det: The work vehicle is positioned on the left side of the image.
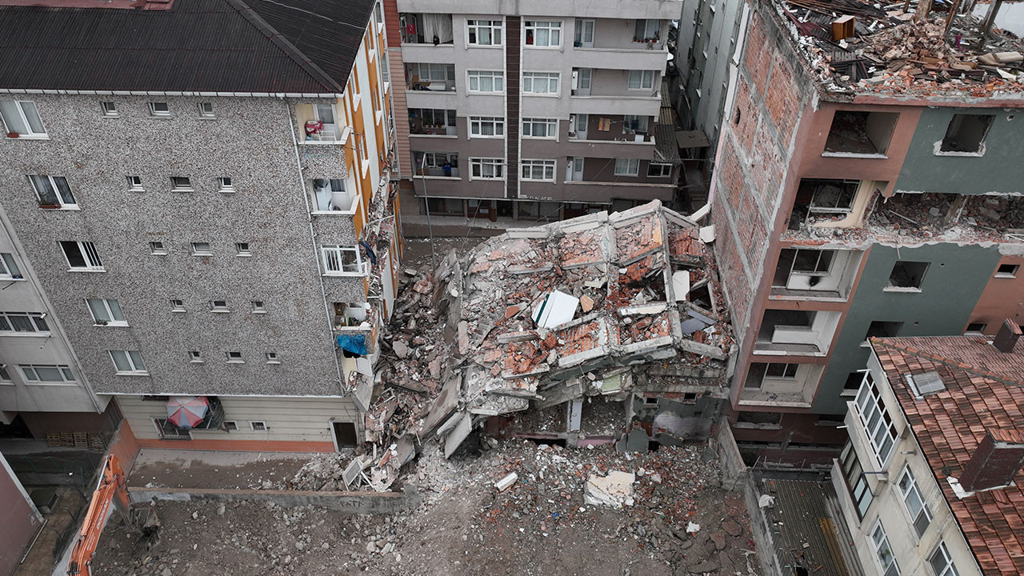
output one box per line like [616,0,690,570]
[71,454,166,576]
